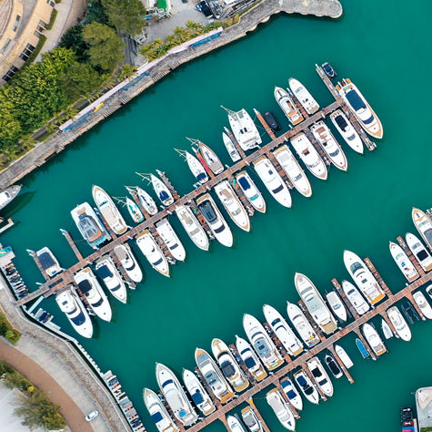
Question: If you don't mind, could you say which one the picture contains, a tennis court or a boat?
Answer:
boat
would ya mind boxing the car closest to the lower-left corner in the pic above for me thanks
[85,409,101,422]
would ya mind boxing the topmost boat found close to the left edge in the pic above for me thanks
[0,185,21,212]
